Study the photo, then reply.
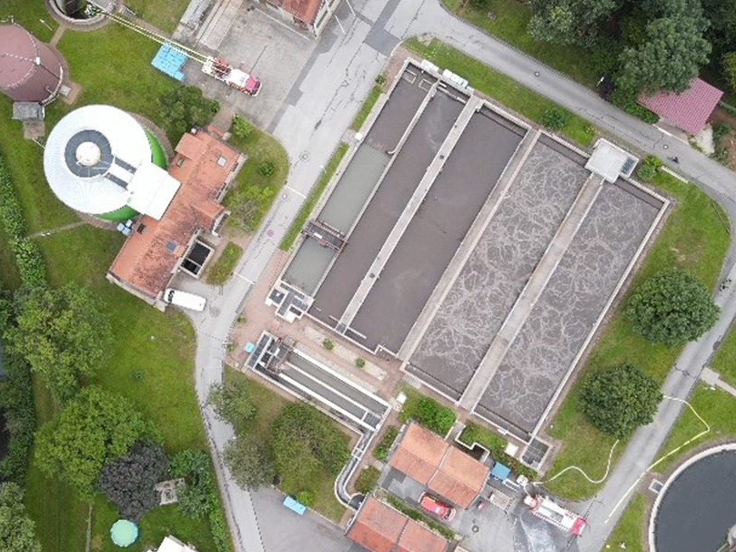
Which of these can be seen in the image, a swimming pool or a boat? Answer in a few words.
swimming pool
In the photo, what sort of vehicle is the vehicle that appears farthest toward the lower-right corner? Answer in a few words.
truck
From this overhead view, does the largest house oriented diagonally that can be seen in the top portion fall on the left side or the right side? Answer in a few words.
left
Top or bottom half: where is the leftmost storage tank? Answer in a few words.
top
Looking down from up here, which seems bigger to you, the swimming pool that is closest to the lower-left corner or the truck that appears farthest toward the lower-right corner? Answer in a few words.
the truck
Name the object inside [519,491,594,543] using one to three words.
truck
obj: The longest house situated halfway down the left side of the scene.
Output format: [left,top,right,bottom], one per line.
[107,130,243,310]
